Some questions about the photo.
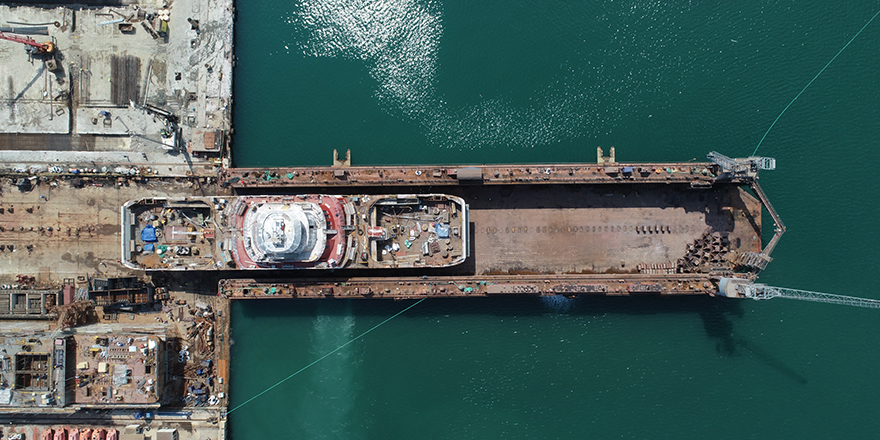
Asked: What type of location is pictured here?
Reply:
port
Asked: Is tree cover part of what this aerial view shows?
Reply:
No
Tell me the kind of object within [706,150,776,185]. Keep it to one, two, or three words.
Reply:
crane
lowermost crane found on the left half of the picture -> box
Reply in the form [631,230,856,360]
[129,99,184,156]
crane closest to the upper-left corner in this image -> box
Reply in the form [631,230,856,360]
[0,34,56,60]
